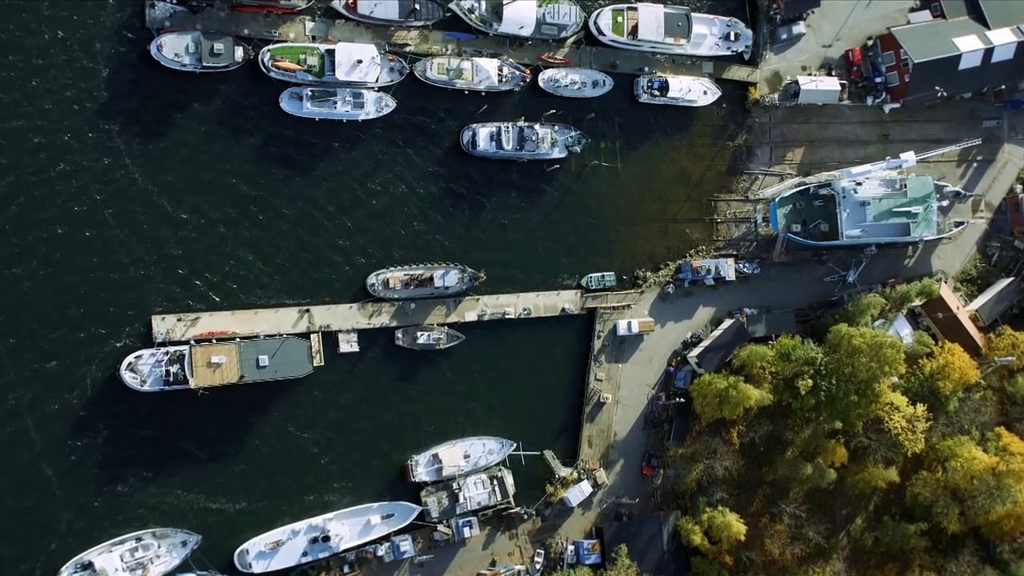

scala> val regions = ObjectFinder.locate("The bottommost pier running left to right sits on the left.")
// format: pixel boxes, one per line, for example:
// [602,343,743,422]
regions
[152,290,585,342]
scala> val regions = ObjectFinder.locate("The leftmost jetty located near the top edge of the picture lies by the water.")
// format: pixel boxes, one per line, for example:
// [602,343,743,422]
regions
[146,0,724,80]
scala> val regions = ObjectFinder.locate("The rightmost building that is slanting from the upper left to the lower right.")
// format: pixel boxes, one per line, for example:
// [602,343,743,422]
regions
[915,281,981,354]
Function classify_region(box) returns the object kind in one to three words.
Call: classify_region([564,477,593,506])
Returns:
shed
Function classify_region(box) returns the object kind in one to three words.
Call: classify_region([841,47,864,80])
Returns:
truck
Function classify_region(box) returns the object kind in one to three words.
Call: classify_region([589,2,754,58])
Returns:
boat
